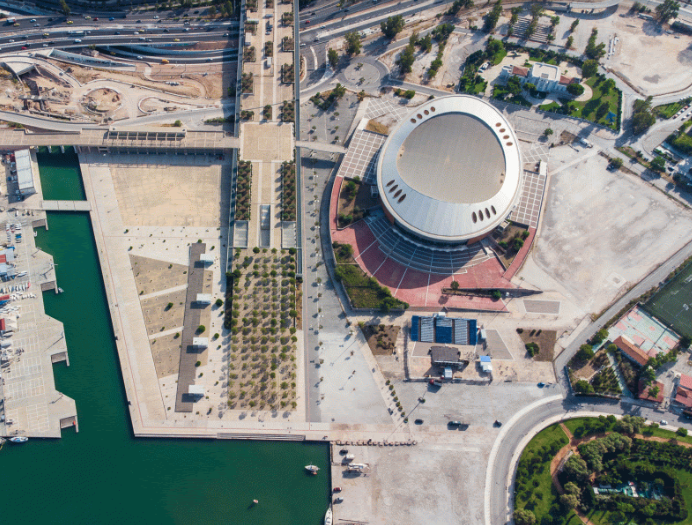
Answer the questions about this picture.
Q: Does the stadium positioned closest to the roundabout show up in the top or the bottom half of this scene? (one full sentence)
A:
Seen from above, the stadium positioned closest to the roundabout lies in the top half of the view.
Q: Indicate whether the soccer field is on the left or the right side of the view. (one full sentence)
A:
You can find the soccer field on the right side of the picture.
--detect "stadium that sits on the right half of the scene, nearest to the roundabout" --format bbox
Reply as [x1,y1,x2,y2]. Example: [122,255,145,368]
[370,95,523,251]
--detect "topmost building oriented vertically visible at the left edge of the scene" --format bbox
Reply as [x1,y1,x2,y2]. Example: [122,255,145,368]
[15,149,39,195]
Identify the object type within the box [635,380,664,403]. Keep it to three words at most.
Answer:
house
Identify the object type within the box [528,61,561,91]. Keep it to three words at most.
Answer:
house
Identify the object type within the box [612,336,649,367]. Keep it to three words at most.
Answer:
building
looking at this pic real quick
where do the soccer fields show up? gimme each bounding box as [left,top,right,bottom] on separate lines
[644,261,692,341]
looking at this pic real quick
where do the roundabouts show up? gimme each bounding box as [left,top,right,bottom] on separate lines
[343,61,380,84]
